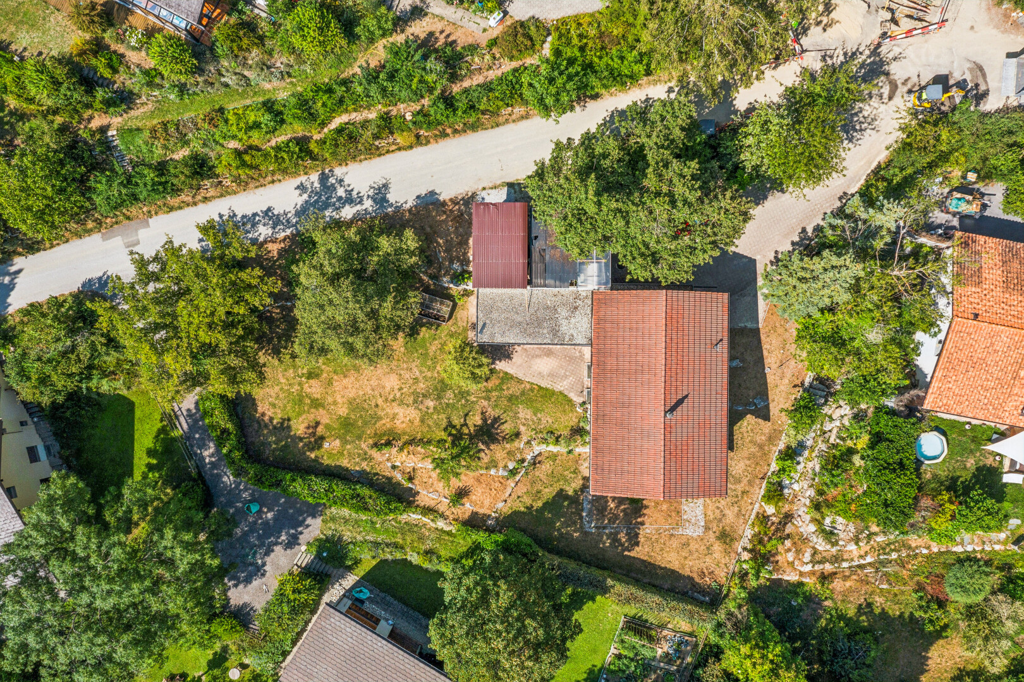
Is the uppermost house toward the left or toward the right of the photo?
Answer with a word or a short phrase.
left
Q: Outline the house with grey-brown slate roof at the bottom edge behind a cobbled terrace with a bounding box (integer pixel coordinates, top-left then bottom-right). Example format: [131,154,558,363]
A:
[275,600,454,682]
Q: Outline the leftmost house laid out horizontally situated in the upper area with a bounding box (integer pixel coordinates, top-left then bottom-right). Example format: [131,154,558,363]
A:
[116,0,223,50]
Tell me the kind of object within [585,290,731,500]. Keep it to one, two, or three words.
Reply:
house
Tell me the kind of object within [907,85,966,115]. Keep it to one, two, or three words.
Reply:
work vehicle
